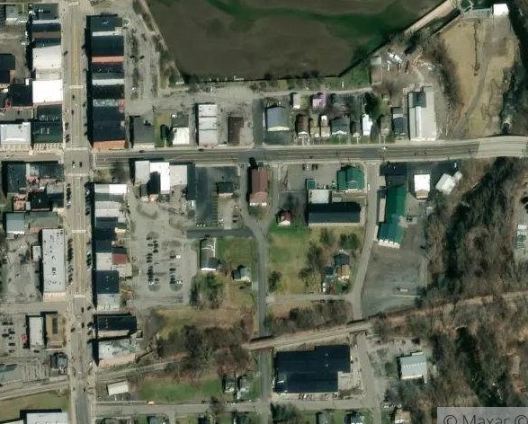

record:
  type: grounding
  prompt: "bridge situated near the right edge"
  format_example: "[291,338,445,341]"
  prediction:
[481,136,526,158]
